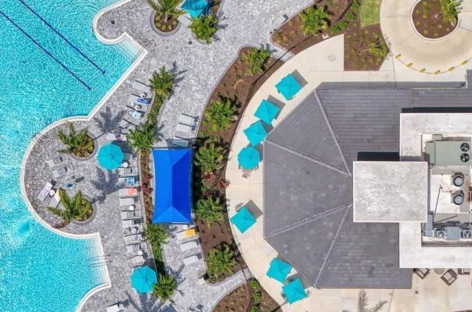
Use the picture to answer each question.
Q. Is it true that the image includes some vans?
No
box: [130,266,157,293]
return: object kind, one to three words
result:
umbrella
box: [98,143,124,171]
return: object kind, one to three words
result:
umbrella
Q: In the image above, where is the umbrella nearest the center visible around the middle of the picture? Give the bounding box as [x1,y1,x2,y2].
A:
[238,146,260,169]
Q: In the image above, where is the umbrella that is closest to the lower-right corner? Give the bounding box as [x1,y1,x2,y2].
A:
[281,277,306,304]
